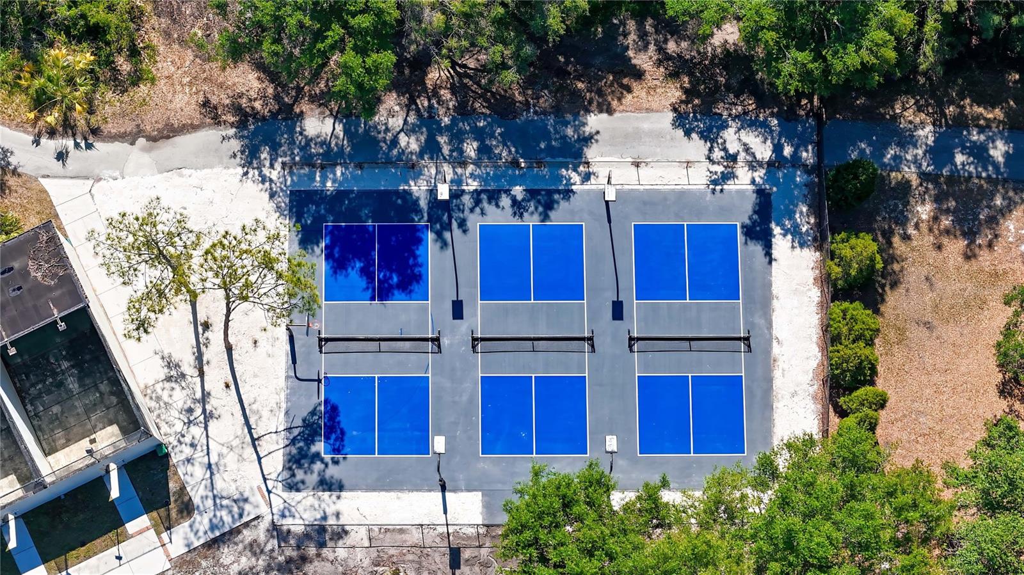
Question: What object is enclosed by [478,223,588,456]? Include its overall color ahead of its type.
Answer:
blue sports court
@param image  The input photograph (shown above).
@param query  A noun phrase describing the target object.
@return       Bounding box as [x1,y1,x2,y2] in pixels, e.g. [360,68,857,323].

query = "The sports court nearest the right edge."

[633,222,746,455]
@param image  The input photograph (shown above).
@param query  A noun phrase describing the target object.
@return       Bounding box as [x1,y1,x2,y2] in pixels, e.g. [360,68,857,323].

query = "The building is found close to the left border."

[0,218,165,520]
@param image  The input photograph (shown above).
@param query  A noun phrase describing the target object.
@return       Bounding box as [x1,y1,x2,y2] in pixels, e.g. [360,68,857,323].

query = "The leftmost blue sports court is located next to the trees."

[321,223,430,457]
